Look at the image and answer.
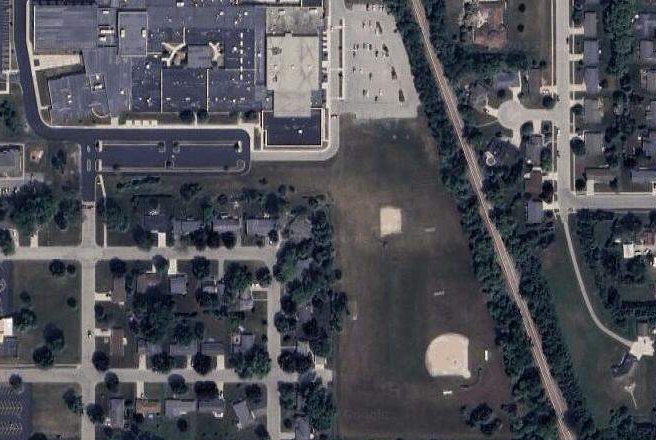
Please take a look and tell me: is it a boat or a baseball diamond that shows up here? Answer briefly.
baseball diamond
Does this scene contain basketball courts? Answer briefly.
No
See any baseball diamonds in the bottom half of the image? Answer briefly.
Yes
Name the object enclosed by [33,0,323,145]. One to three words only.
building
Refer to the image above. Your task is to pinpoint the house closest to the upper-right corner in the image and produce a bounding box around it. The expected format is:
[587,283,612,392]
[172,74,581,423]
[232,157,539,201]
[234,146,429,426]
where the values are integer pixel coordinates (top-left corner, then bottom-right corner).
[636,14,656,38]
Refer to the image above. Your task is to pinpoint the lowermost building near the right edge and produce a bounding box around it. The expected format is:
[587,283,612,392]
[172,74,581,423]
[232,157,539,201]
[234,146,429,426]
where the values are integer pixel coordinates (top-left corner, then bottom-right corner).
[609,353,636,377]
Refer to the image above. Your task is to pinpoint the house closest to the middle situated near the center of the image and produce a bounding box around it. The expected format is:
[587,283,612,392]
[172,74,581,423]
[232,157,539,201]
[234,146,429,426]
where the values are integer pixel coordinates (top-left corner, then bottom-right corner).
[290,220,311,238]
